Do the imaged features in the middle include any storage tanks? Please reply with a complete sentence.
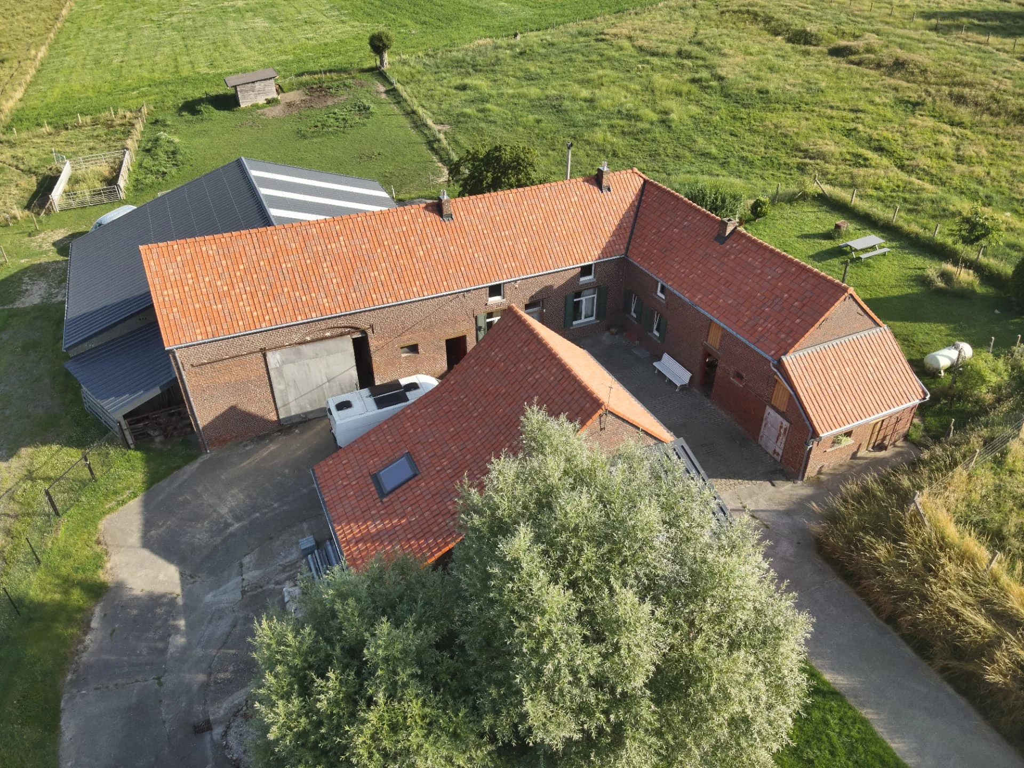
No, no storage tank is visible in the middle.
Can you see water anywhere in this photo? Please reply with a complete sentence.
No, there's no water in this view.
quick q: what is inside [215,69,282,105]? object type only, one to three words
shed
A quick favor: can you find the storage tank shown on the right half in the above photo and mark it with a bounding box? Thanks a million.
[920,337,974,379]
